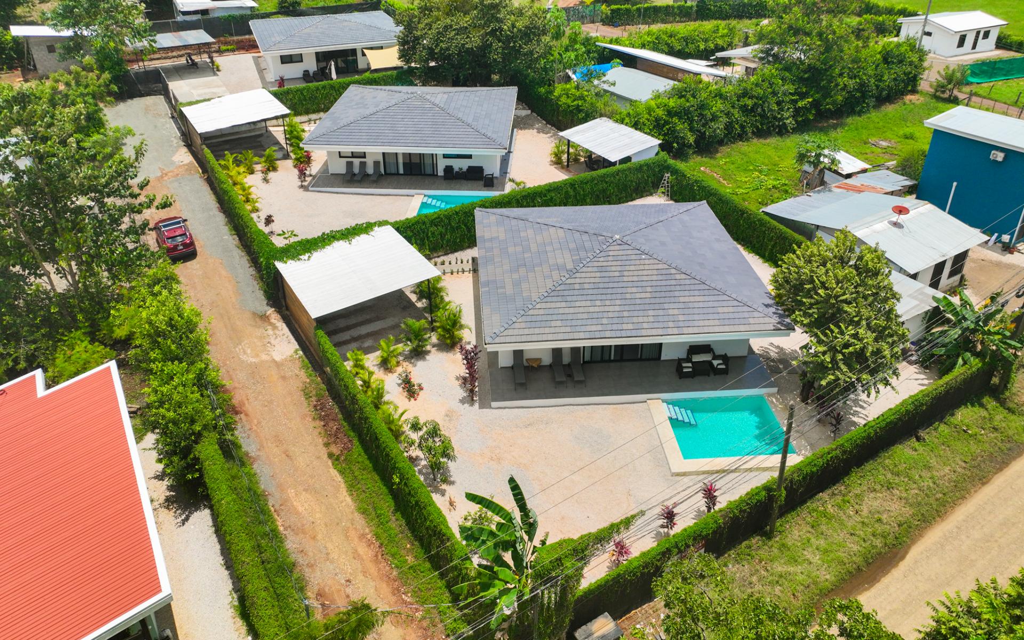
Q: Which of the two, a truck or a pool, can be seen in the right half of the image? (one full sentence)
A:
What appears in the right half of the image is a pool.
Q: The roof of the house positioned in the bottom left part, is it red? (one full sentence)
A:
Yes, red is the color of the roof of the house positioned in the bottom left part.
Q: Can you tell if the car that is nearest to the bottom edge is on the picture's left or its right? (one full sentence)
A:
It is on the left.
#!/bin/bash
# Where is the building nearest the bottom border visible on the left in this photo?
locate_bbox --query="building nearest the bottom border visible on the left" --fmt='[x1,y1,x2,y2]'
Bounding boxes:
[0,361,179,640]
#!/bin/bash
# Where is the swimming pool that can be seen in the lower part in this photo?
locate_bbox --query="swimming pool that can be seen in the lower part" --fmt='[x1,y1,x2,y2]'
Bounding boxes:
[645,391,804,477]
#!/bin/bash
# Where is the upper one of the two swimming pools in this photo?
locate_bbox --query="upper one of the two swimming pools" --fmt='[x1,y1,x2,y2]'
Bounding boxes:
[404,193,488,227]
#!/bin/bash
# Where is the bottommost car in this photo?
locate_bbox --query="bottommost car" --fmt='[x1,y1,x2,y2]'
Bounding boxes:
[146,213,193,255]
